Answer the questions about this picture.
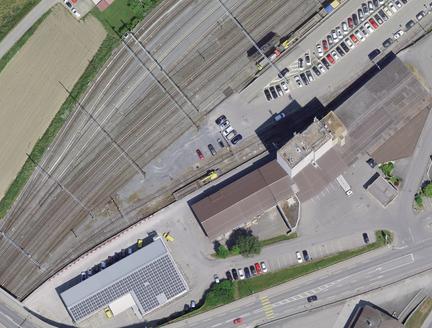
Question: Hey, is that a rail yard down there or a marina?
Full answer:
It's a rail yard.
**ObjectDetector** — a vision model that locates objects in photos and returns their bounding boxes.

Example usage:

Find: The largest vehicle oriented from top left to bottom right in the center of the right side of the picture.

[334,174,354,196]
